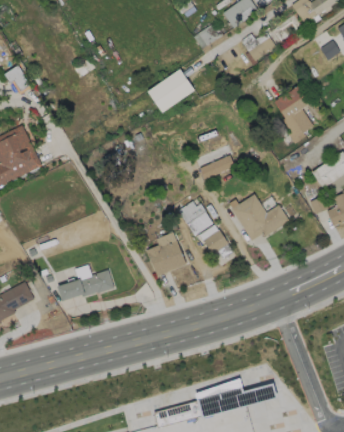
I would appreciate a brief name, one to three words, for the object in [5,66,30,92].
building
